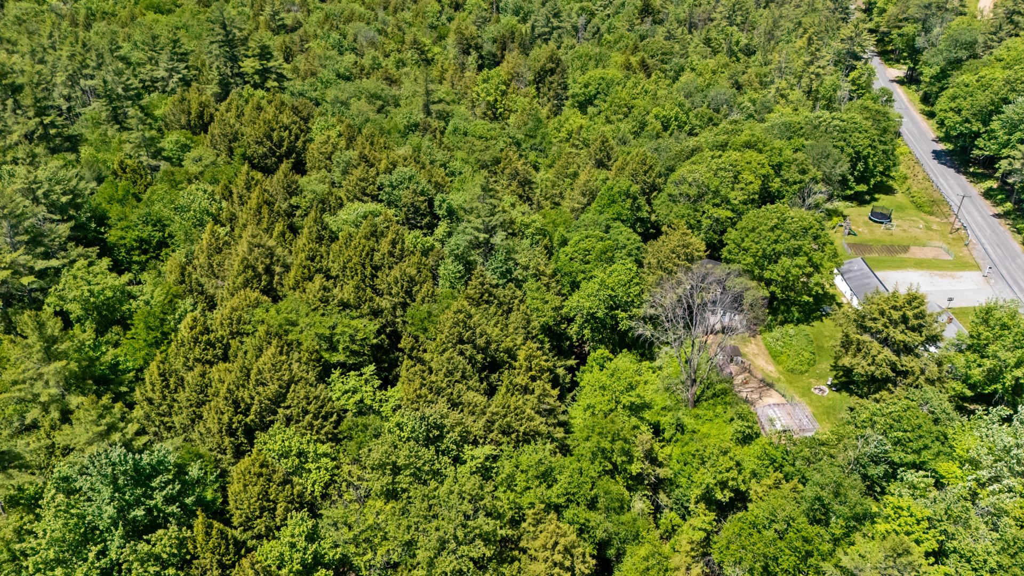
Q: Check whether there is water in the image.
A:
No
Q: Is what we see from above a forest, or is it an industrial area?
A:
forest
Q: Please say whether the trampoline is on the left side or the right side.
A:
right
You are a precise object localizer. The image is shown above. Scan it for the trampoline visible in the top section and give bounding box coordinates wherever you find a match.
[871,201,894,222]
